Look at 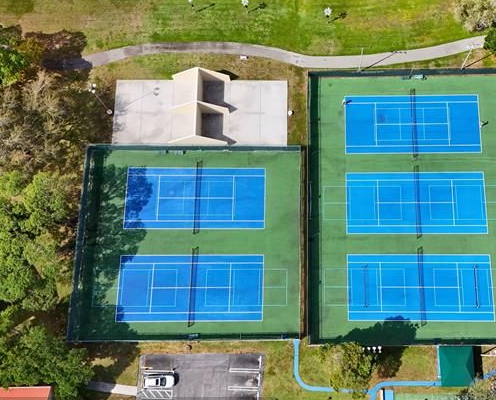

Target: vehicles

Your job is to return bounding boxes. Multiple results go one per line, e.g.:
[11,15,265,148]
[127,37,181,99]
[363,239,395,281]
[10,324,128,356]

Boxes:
[143,374,175,389]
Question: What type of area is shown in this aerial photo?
sports ground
